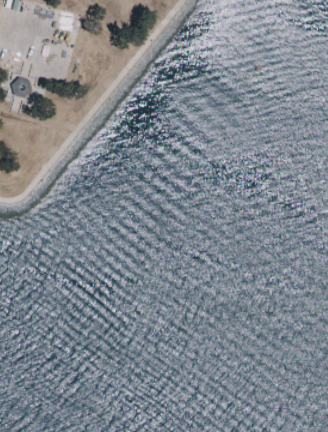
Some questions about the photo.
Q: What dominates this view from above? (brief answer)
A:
water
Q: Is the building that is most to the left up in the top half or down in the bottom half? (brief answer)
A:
top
